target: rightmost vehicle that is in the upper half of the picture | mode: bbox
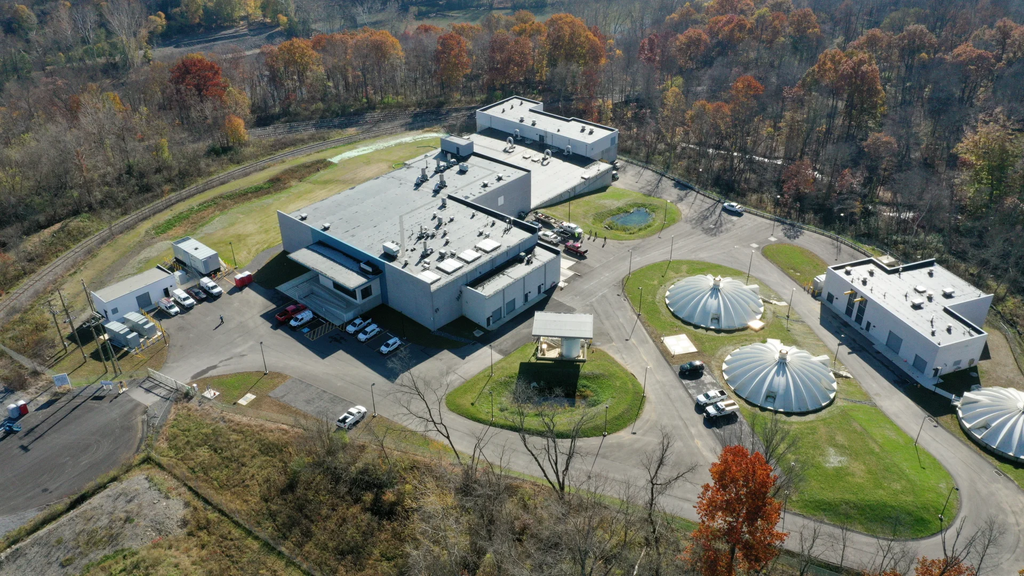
[720,202,748,215]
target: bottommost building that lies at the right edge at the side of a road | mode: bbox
[822,258,995,377]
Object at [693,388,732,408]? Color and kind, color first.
white vehicle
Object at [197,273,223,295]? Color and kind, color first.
white truck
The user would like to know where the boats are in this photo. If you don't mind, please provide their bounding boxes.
[531,207,557,223]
